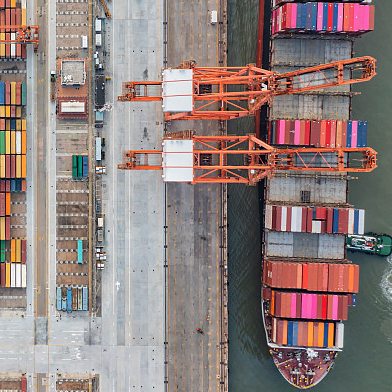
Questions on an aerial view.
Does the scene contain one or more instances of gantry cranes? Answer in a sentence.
Yes, you can see a gantry crane in this photo.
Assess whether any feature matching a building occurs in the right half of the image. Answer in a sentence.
No, no building can be made out in the right half of the image.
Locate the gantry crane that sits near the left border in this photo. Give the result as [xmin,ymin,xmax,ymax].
[0,23,41,51]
